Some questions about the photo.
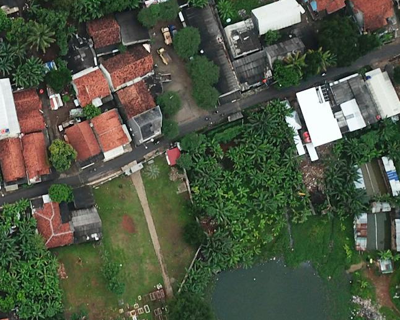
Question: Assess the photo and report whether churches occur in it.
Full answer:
No, there is no church in the image.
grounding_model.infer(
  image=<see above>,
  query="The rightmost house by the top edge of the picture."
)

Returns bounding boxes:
[355,0,397,30]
